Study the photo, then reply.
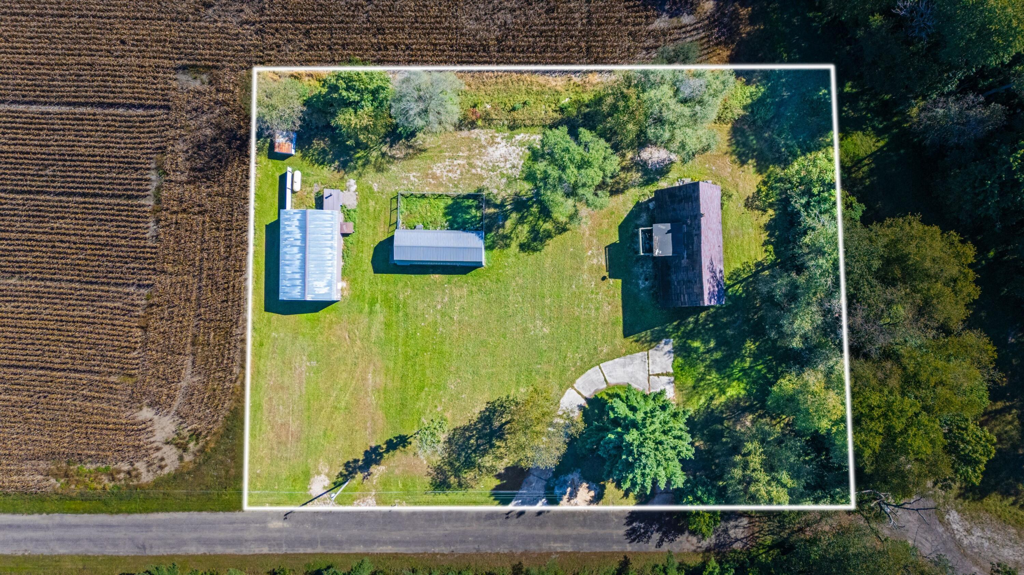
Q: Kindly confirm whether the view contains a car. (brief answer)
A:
No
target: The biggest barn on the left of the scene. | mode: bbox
[279,208,341,300]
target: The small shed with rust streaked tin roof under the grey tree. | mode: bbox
[274,129,296,155]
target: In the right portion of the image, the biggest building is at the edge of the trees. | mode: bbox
[633,181,727,306]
